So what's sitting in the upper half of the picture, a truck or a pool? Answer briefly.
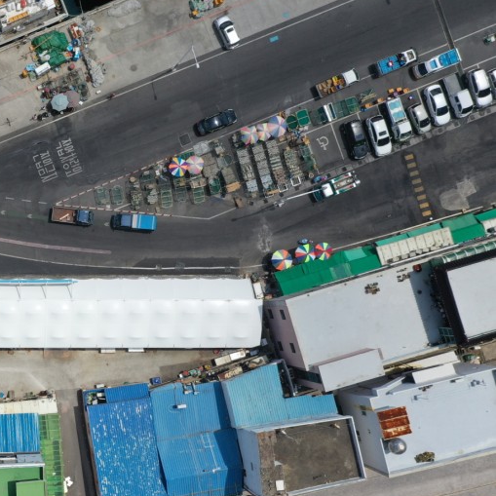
truck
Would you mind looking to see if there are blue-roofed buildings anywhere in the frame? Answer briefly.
Yes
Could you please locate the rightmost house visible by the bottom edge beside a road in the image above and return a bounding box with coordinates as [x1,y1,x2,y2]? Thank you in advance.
[339,355,496,477]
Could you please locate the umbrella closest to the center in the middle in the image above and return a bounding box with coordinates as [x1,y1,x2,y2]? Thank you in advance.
[271,249,292,270]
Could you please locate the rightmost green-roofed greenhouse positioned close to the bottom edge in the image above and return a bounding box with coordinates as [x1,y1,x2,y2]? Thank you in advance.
[41,413,64,496]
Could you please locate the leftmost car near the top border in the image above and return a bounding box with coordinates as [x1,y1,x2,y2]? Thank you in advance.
[210,13,243,53]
